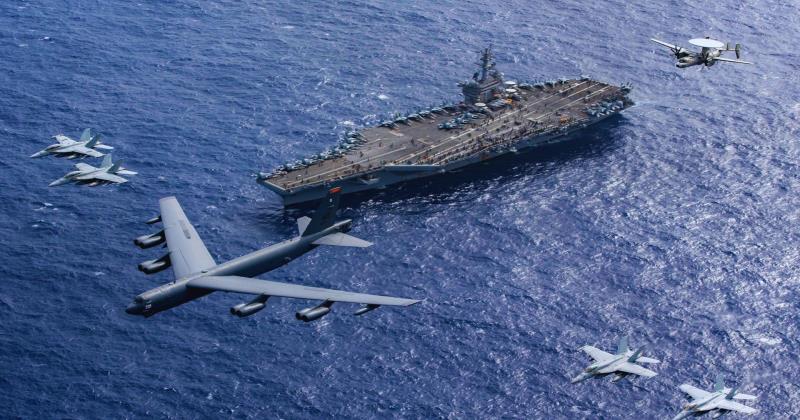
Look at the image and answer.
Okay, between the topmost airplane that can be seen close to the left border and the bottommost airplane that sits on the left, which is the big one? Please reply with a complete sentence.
The bottommost airplane that sits on the left takes up more space than the topmost airplane that can be seen close to the left border.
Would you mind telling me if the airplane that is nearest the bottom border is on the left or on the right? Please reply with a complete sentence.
The airplane that is nearest the bottom border appears in the right half of the scene.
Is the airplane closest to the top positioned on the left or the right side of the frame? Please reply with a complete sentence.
The airplane closest to the top is on the right side of the image.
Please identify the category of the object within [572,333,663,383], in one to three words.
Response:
airplane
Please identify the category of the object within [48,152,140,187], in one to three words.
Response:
airplane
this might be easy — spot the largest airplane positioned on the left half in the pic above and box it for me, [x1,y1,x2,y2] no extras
[124,187,420,325]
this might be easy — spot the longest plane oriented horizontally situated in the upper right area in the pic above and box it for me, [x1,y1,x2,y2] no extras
[652,35,754,70]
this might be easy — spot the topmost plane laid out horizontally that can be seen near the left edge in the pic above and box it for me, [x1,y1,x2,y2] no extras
[31,126,116,158]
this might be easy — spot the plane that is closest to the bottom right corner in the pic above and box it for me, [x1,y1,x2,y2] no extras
[672,372,759,420]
